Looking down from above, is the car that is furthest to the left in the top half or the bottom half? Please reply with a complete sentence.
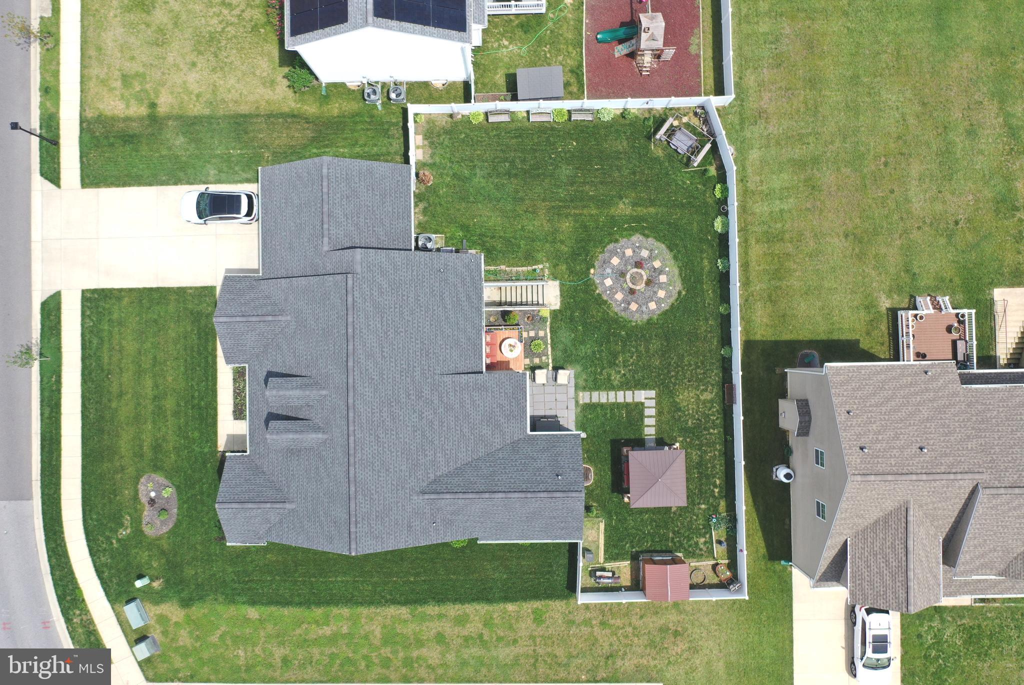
The car that is furthest to the left is in the top half of the image.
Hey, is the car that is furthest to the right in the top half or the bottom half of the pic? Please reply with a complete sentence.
It is in the bottom half that the car that is furthest to the right appears.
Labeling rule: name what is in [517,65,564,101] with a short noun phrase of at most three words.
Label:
shed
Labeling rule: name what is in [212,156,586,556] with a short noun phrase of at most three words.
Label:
house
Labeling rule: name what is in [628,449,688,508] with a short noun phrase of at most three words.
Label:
gazebo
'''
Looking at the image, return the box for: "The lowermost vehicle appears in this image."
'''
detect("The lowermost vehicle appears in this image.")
[851,604,896,685]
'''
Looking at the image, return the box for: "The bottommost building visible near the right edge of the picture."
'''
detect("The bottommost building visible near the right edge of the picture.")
[779,360,1024,613]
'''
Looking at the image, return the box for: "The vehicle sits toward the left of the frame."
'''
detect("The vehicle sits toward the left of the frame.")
[180,186,257,226]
